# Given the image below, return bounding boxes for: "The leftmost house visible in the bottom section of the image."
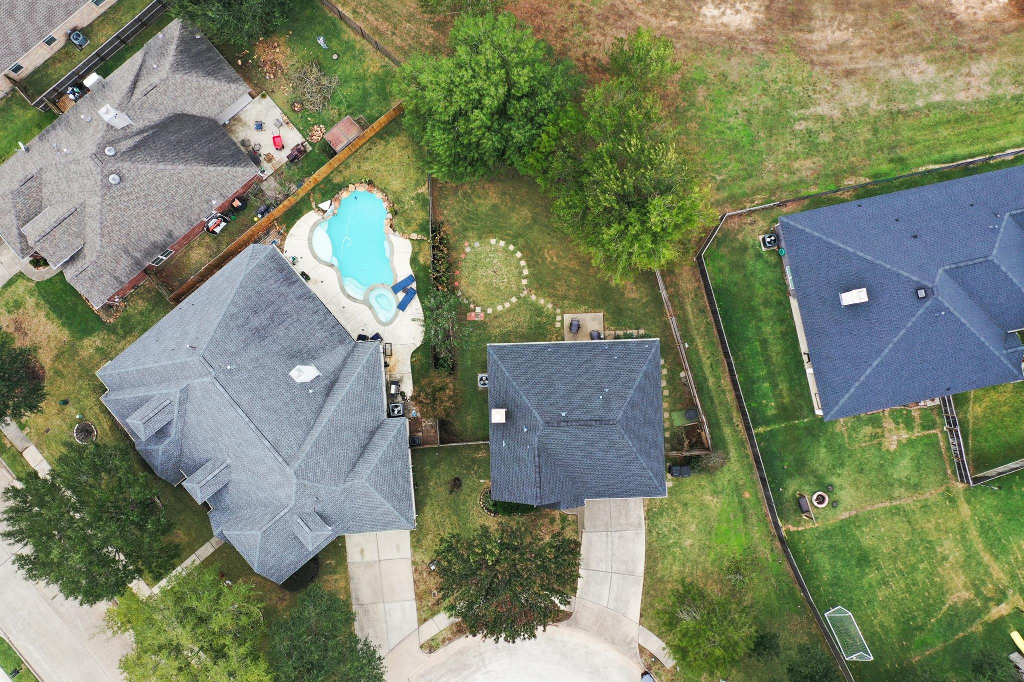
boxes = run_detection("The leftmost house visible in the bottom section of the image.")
[94,243,417,585]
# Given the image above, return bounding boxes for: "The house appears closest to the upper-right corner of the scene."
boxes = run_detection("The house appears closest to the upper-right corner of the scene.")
[776,166,1024,423]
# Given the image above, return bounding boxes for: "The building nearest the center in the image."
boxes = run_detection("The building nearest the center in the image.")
[486,339,668,509]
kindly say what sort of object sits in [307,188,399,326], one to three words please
swimming pool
